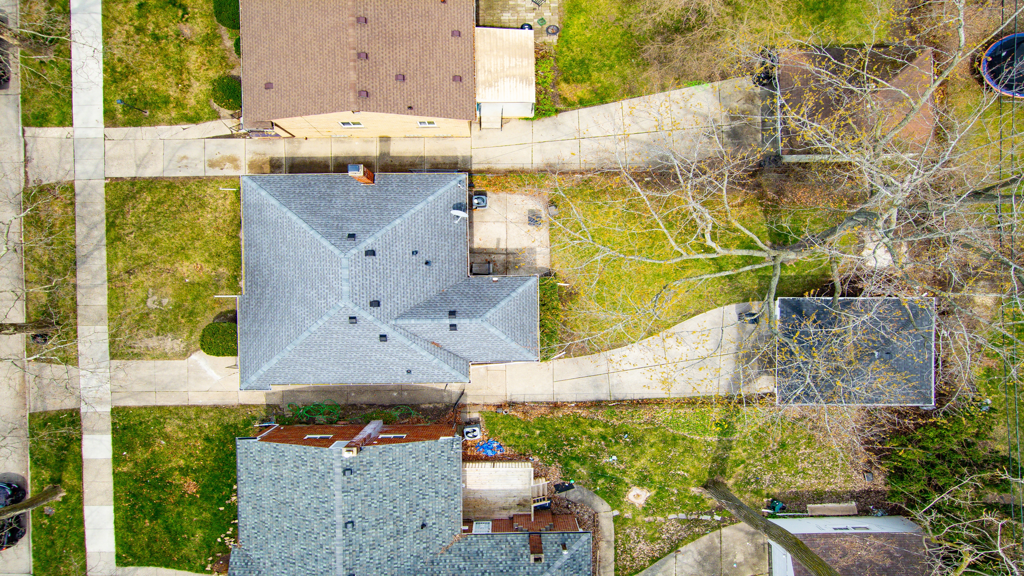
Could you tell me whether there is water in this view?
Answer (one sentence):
No, the scene doesn't show any water.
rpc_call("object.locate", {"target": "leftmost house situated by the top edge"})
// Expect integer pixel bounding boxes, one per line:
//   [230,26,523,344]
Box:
[230,0,480,140]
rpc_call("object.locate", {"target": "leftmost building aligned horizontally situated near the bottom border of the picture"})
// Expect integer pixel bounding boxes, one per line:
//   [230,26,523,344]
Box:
[230,419,595,576]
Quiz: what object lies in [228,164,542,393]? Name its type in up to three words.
house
